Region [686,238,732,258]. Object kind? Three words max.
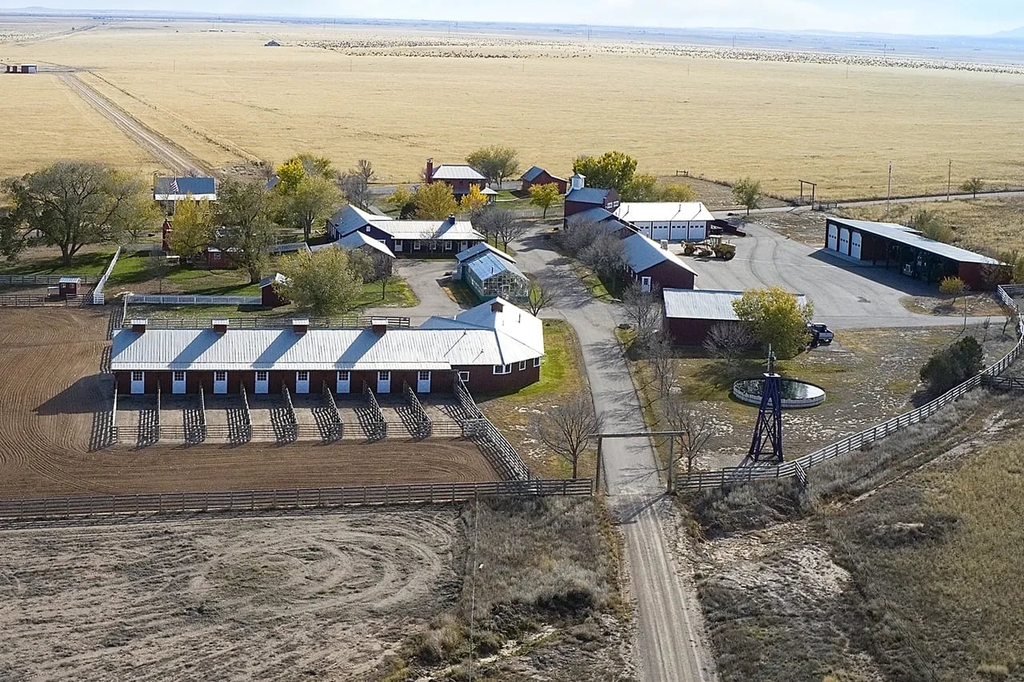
work vehicle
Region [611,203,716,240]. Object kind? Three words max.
building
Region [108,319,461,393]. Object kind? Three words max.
barn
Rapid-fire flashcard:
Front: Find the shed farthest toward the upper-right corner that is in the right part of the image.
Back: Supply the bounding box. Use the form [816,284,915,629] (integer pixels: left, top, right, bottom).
[813,220,1013,292]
